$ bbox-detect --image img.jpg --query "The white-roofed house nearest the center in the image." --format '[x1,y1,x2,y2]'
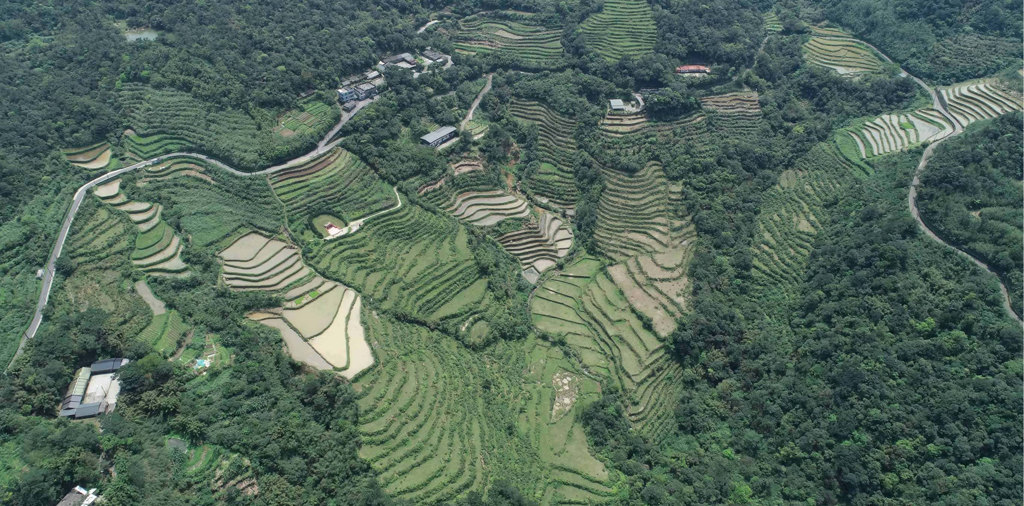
[419,124,456,148]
